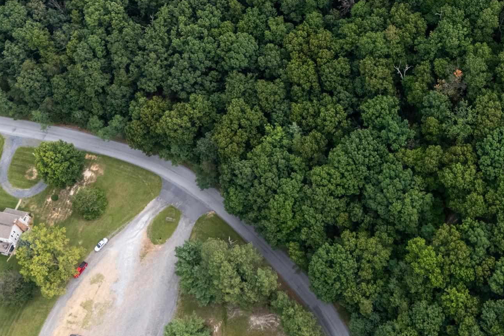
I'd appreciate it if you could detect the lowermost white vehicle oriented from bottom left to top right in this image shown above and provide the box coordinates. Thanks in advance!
[94,238,110,252]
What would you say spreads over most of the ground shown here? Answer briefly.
trees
